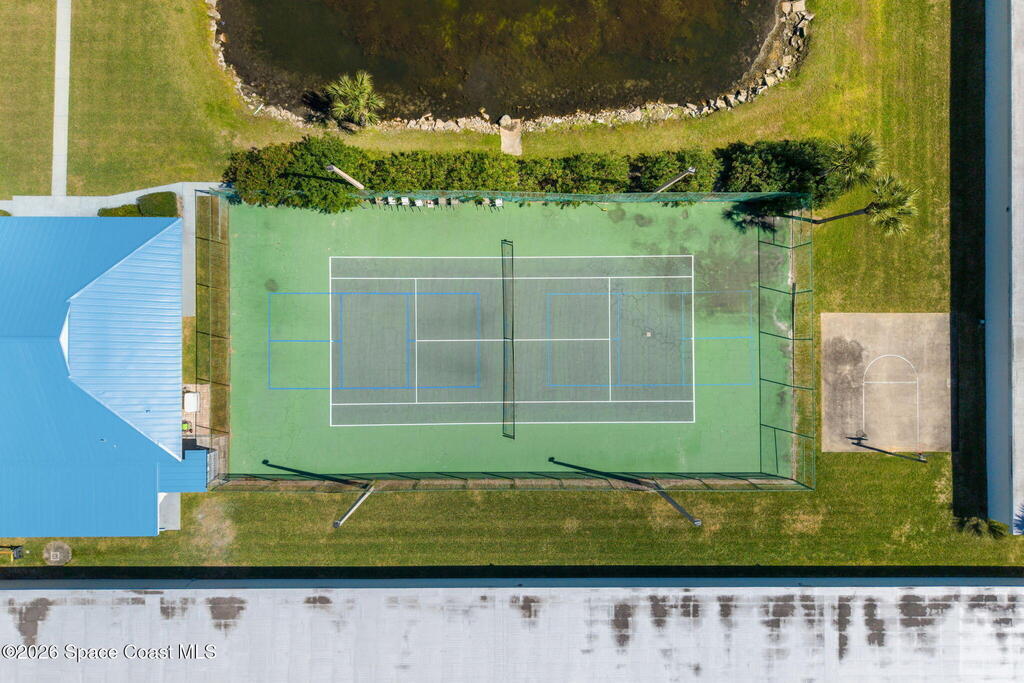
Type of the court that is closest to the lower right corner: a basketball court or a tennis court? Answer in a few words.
basketball court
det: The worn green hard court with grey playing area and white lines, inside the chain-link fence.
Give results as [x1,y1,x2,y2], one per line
[229,199,796,480]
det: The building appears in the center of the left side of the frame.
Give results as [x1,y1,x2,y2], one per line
[0,216,216,536]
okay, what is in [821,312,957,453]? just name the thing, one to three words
basketball court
